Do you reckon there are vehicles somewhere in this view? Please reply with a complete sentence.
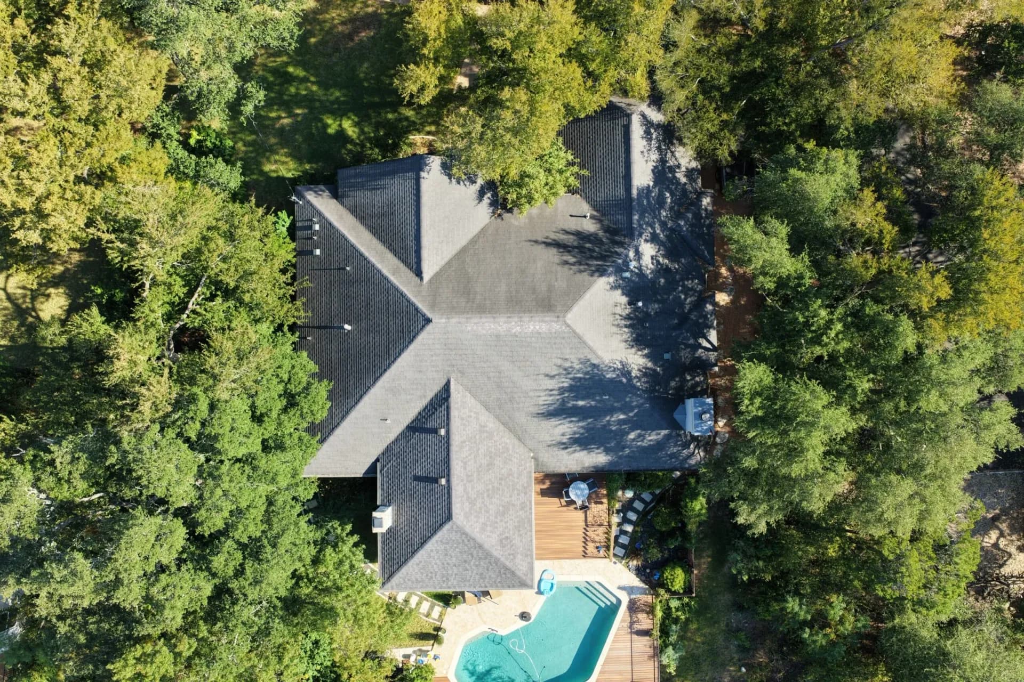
No, no vehicle can be seen from above.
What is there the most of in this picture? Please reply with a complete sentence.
What you mostly see from above here is trees.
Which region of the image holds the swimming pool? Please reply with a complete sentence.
The swimming pool is in the bottom part of the image.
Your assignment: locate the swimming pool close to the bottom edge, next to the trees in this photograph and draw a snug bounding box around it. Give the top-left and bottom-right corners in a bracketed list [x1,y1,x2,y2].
[449,576,628,682]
